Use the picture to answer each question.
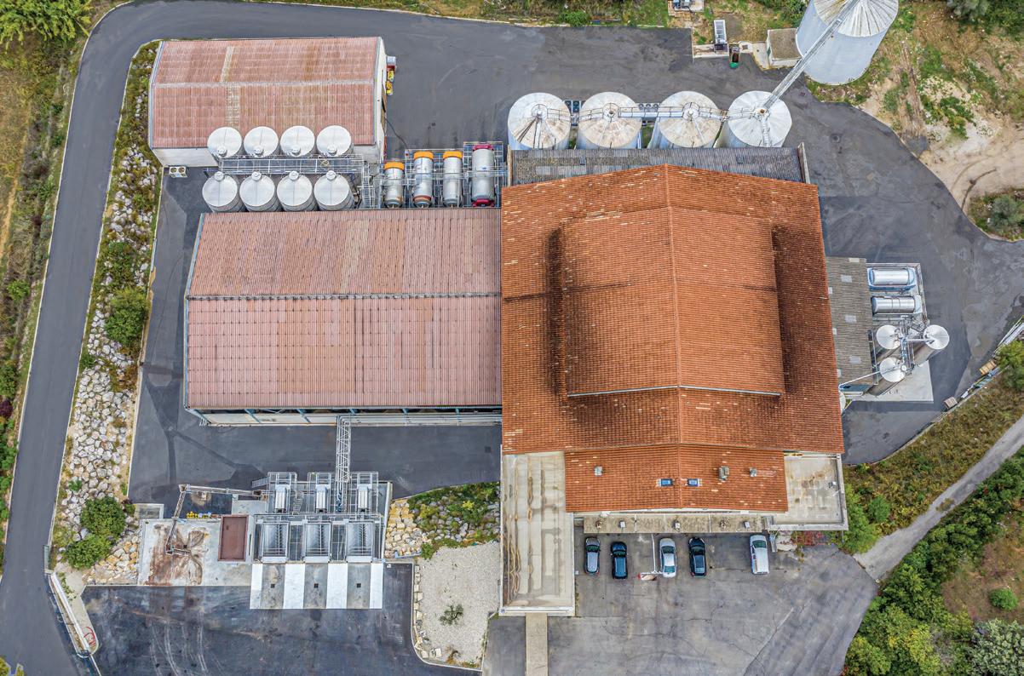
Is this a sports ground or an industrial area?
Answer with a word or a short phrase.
industrial area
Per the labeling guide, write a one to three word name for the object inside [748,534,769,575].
vehicle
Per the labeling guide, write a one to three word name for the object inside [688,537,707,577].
car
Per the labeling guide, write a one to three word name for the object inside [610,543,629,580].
car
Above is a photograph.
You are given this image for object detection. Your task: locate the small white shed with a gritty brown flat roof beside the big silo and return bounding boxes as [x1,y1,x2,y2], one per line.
[766,29,805,68]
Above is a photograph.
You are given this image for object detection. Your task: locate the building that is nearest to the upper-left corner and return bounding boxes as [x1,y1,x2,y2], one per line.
[149,37,386,165]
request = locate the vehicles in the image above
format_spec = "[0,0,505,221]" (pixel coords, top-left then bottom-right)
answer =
[688,537,707,577]
[658,538,677,578]
[748,534,769,575]
[583,538,601,575]
[610,543,629,580]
